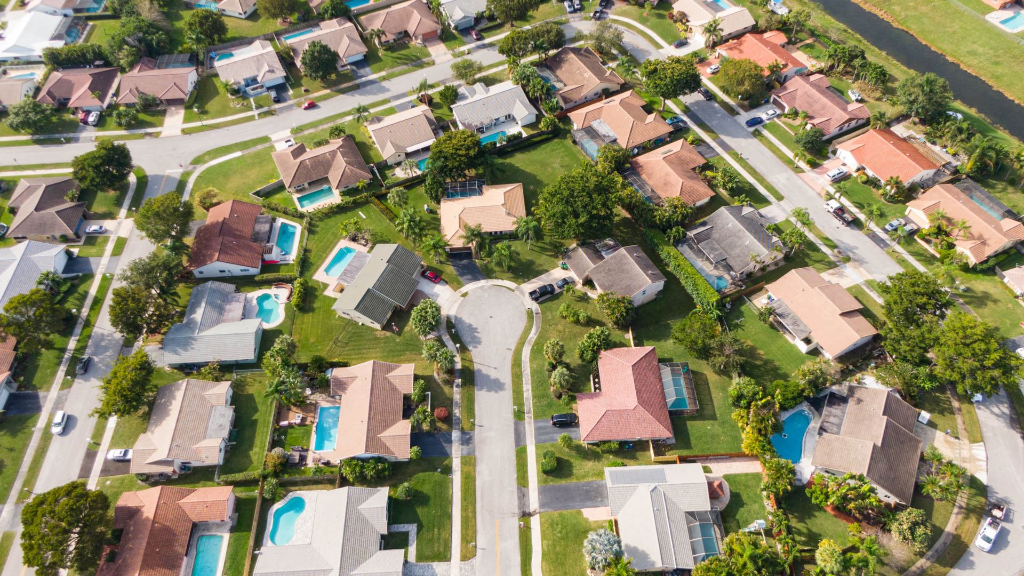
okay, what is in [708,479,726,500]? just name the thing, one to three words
gazebo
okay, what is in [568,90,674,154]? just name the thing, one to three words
house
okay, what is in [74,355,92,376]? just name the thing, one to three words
car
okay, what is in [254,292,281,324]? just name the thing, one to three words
swimming pool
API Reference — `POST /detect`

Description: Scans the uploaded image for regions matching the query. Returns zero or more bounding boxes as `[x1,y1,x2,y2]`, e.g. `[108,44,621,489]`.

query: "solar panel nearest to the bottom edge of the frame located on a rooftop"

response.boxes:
[609,468,667,484]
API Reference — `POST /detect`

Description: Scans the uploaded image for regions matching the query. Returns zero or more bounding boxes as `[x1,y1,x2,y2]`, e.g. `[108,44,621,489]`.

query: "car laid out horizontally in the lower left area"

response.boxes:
[104,448,130,462]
